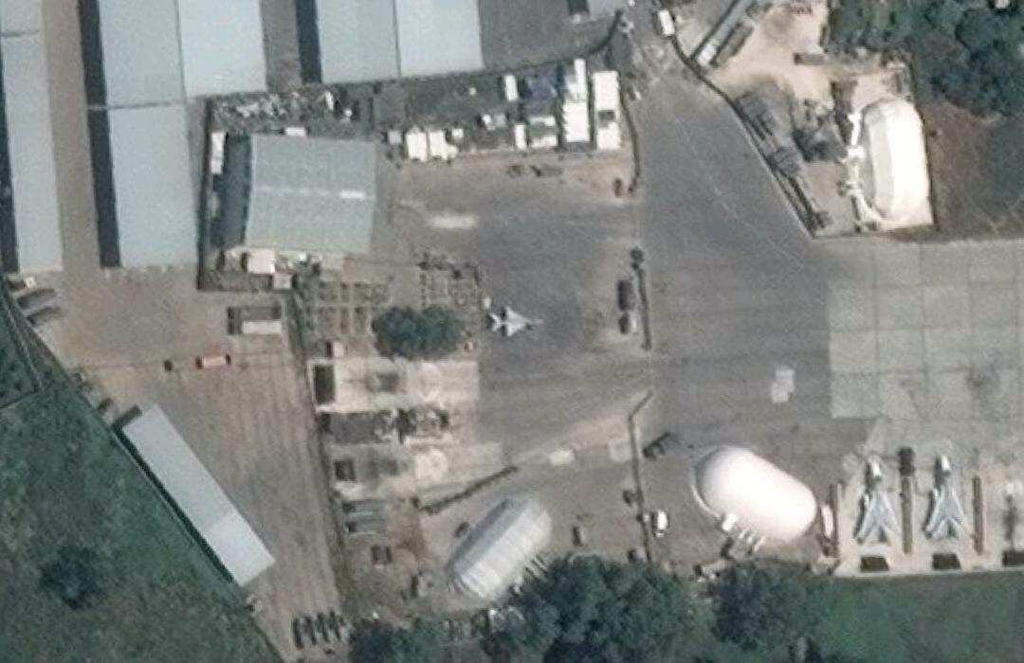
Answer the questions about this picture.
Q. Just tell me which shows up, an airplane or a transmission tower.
airplane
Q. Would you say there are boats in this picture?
No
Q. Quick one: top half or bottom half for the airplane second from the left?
bottom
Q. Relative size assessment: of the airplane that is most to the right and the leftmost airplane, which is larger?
the airplane that is most to the right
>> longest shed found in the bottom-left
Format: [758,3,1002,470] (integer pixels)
[122,404,274,584]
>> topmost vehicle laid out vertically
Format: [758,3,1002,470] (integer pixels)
[659,8,674,36]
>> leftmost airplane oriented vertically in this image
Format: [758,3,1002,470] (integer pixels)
[862,457,903,544]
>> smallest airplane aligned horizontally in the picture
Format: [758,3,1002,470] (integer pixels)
[489,309,546,336]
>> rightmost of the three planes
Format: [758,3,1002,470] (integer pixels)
[928,454,970,542]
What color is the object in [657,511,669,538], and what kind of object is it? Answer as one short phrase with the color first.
white vehicle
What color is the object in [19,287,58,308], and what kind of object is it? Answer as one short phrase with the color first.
gray truck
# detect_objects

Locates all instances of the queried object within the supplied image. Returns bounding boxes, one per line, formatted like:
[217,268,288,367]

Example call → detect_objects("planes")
[928,454,970,542]
[489,309,546,336]
[862,457,903,544]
